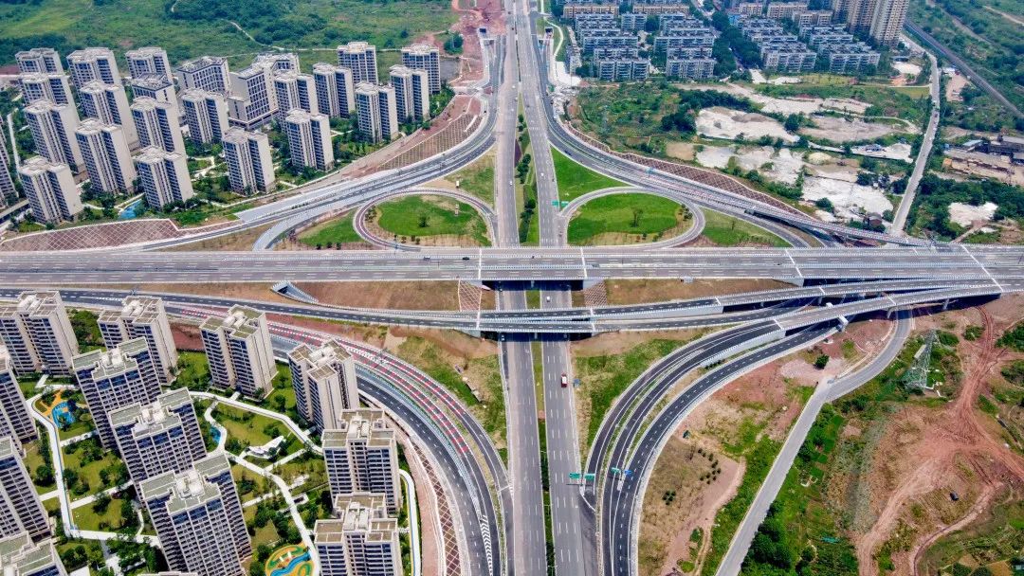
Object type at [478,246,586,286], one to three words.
overpass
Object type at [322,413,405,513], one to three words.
building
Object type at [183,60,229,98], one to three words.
building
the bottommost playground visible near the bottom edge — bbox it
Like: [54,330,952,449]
[264,543,315,576]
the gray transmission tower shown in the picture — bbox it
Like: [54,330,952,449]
[897,328,942,393]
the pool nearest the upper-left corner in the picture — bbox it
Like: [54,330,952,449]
[118,198,146,218]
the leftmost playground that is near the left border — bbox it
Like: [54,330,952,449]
[45,389,76,428]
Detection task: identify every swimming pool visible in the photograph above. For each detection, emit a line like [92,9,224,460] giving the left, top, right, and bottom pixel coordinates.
[211,425,222,444]
[118,198,146,218]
